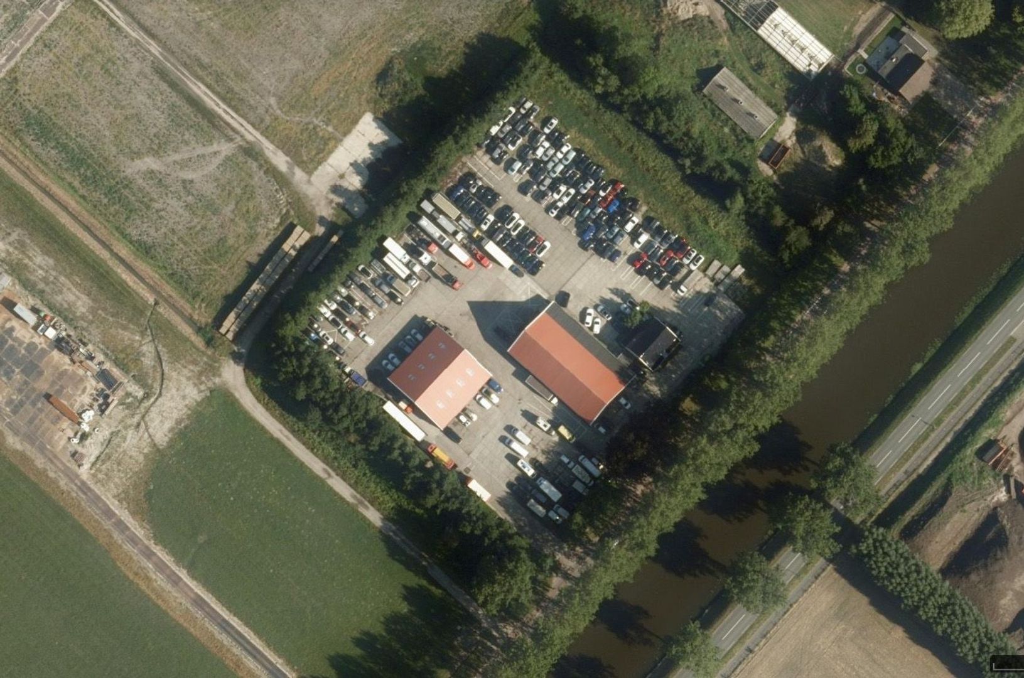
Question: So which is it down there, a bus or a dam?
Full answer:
The image shows a bus.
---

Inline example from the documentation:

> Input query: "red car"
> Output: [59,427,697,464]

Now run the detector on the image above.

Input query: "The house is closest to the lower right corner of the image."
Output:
[624,316,681,372]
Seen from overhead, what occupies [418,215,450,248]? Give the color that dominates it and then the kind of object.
white bus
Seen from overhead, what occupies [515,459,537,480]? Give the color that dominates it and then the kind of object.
white vehicle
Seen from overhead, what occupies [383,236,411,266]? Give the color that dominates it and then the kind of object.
white truck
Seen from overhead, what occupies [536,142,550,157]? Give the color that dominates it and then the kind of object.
white car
